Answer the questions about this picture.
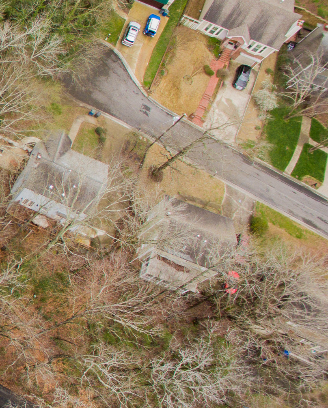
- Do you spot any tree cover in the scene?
Yes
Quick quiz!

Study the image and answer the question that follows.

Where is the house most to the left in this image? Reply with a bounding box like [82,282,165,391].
[8,127,111,231]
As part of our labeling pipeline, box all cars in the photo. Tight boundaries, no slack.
[122,21,141,45]
[144,13,160,37]
[234,65,250,89]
